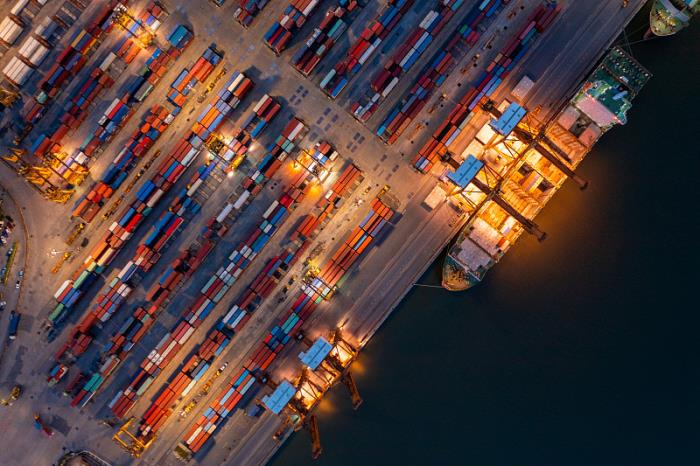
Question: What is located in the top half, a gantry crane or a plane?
gantry crane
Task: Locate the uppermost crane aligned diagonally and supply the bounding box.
[112,4,163,52]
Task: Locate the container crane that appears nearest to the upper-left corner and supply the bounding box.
[0,84,47,122]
